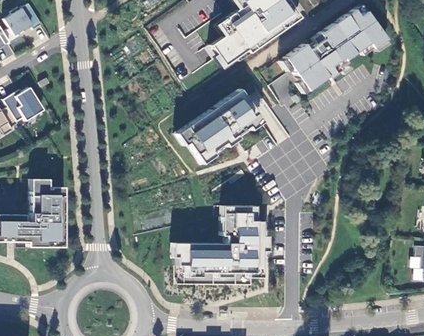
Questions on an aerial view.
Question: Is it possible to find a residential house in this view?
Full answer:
Yes, the picture does show a residential house.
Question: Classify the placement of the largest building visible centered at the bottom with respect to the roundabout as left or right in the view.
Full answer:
Compared with the roundabout, the largest building visible centered at the bottom is located further to the right.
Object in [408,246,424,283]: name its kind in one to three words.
house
